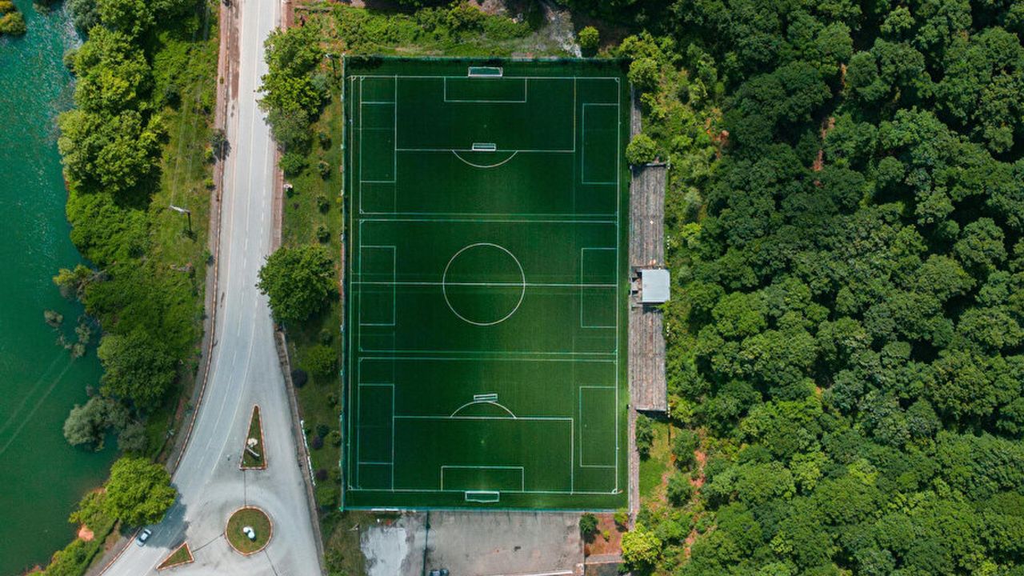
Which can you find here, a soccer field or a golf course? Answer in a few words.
soccer field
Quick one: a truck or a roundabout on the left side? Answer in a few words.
roundabout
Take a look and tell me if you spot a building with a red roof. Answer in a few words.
No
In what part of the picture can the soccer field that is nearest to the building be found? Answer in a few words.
center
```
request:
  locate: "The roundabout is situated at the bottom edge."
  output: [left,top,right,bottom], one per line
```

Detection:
[224,506,273,555]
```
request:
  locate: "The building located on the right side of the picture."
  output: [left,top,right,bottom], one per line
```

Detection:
[632,269,671,302]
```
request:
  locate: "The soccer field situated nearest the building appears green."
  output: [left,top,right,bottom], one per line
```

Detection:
[345,62,630,510]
